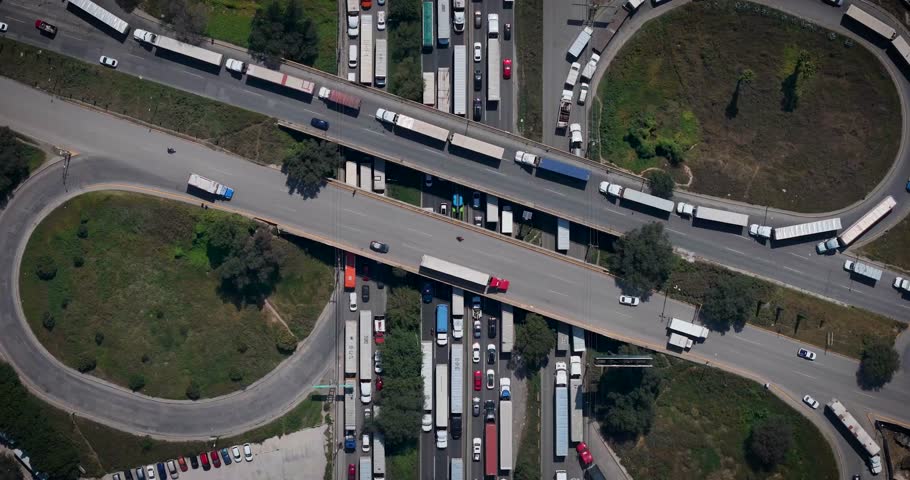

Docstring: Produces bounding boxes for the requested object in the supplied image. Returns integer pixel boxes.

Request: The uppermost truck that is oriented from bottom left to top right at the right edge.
[815,196,897,254]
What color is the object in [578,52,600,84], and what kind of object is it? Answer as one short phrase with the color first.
white truck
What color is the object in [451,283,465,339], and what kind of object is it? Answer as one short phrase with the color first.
white vehicle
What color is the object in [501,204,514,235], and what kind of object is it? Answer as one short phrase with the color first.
white vehicle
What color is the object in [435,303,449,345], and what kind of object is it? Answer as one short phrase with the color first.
blue vehicle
